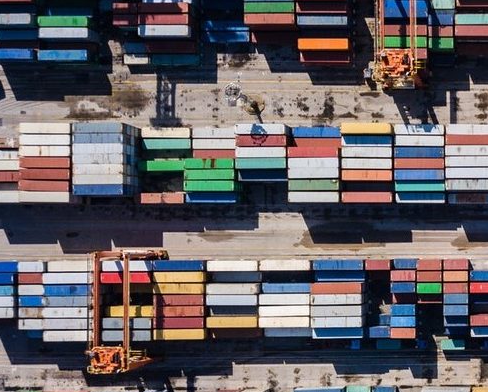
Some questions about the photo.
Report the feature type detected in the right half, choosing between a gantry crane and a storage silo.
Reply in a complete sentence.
Visible in the right half is a gantry crane.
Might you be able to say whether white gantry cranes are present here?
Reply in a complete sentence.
No, no white gantry crane can be seen from above.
